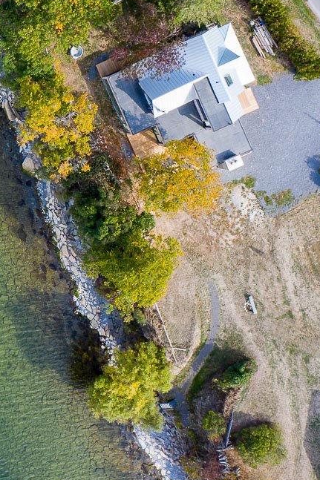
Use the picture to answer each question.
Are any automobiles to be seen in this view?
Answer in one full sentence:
No, the scene contains no automobile.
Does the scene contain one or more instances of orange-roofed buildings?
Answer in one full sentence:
No, I can't see a single orange-roofed building in this photo.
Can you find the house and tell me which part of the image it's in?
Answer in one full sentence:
Look in the top portion of the view to spot the house.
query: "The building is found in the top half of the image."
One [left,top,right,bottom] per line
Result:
[95,23,260,172]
